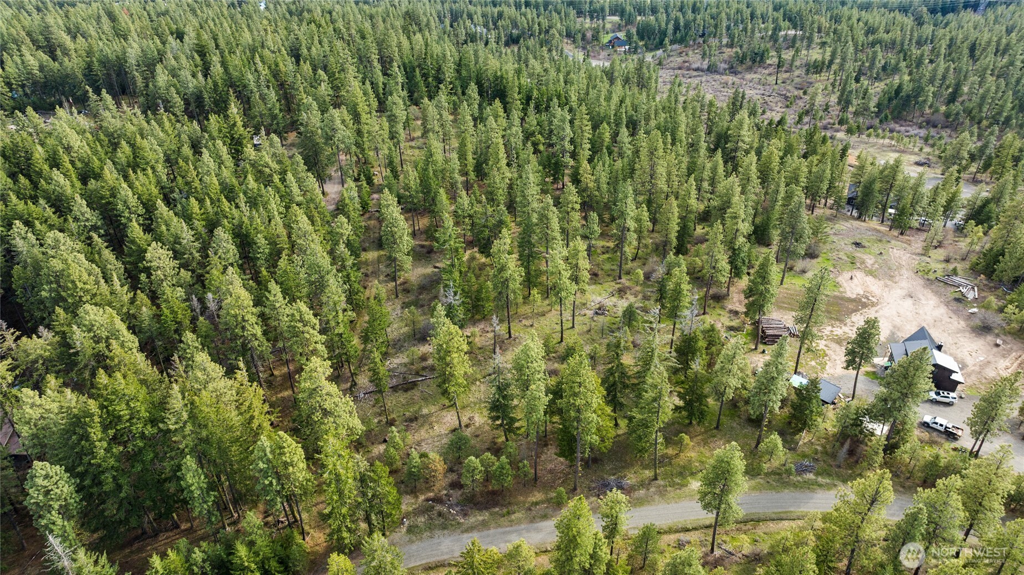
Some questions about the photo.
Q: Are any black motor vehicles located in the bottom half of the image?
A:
No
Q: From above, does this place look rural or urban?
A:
rural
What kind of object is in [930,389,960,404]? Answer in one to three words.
car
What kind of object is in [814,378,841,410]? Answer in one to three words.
shed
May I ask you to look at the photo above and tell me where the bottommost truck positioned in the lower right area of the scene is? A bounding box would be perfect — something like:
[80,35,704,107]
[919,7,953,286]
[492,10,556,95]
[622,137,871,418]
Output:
[921,413,964,437]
